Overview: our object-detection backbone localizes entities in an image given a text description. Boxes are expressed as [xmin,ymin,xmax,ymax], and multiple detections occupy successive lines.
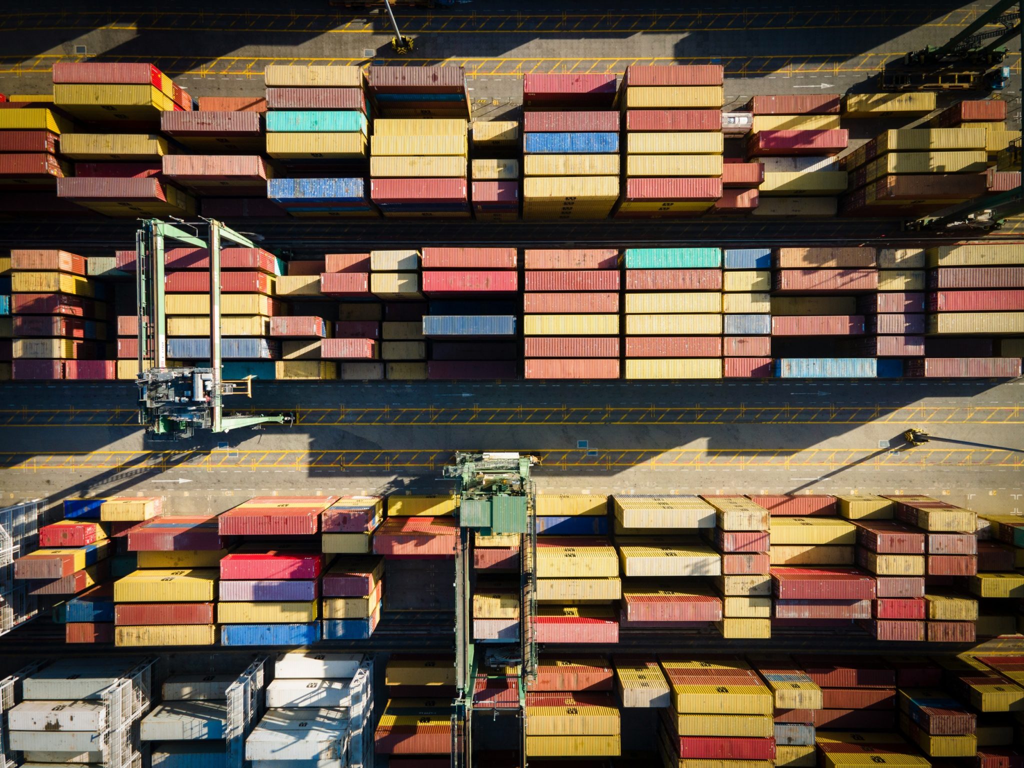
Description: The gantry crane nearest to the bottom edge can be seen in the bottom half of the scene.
[449,639,538,768]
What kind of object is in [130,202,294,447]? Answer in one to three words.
container crane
